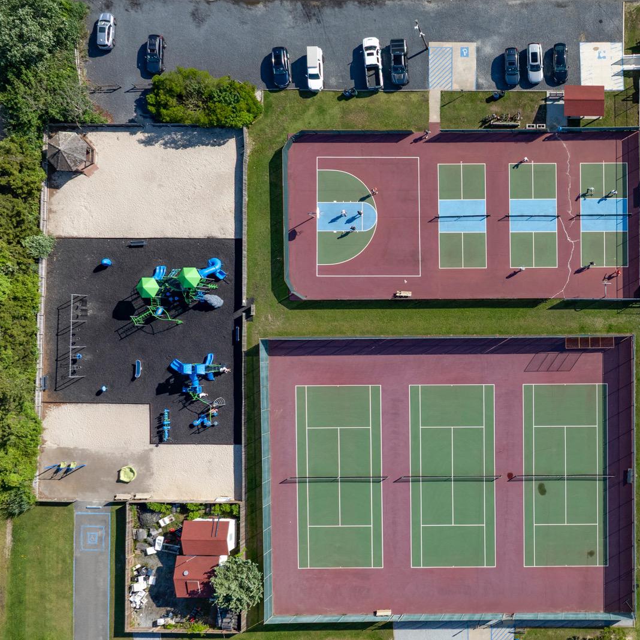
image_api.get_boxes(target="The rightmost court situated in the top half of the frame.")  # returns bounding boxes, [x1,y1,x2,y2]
[576,162,632,267]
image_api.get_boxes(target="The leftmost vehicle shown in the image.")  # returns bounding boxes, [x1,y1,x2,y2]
[96,12,117,50]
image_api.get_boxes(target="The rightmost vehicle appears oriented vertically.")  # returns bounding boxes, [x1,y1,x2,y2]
[554,43,570,84]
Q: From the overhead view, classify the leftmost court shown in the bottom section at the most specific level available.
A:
tennis court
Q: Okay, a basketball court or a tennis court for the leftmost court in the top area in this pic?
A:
basketball court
